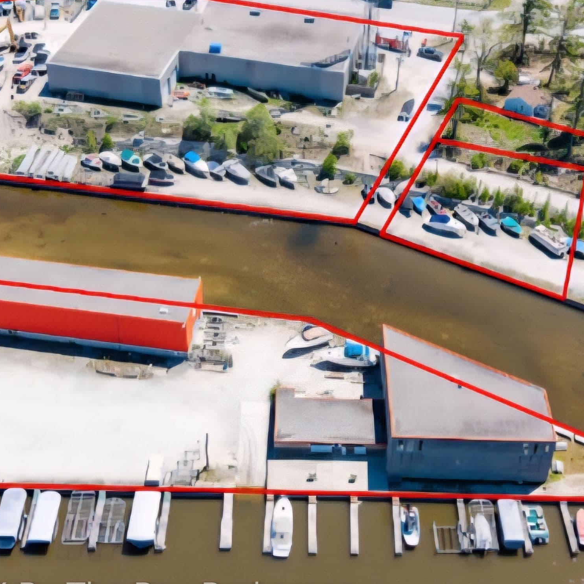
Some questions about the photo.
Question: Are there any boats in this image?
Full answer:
Yes, there is a boat in the image.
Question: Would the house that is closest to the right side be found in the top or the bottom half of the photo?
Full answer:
You can find the house that is closest to the right side in the top half.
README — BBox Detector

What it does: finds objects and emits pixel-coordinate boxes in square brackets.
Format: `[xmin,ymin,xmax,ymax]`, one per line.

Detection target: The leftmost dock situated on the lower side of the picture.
[18,493,39,550]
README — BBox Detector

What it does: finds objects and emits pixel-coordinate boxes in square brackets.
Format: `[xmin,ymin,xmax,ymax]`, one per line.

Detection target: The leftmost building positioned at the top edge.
[46,0,365,107]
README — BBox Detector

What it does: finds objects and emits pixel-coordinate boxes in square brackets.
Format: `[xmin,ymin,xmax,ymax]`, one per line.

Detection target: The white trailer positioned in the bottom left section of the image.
[142,445,163,486]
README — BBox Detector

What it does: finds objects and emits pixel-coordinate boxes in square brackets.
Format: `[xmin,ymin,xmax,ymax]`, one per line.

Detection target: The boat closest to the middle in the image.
[285,325,340,346]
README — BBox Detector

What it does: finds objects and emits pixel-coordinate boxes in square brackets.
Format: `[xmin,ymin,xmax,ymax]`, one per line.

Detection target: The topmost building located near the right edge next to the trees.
[505,84,558,119]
